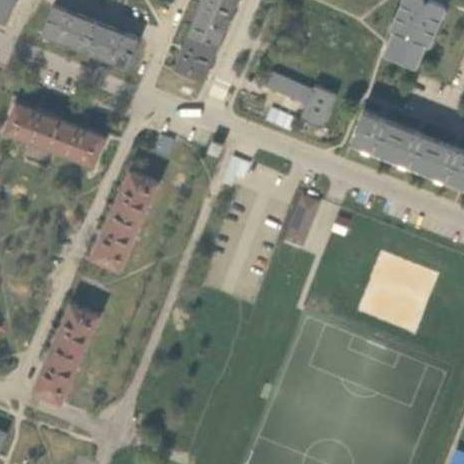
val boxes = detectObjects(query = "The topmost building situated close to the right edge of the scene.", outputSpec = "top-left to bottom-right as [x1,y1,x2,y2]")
[383,0,446,74]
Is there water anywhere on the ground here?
No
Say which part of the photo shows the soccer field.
bottom right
